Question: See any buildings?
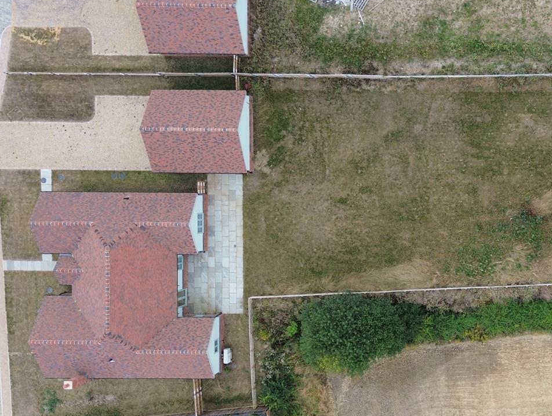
Yes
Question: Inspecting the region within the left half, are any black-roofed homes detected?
No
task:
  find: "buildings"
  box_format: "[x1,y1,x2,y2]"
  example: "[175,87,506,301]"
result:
[137,0,252,58]
[27,191,225,390]
[139,88,253,174]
